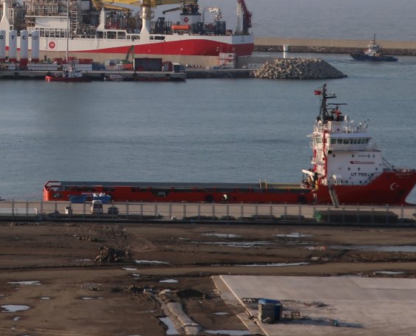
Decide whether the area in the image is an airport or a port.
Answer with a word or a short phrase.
port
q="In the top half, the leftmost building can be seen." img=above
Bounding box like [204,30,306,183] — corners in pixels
[133,58,162,73]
